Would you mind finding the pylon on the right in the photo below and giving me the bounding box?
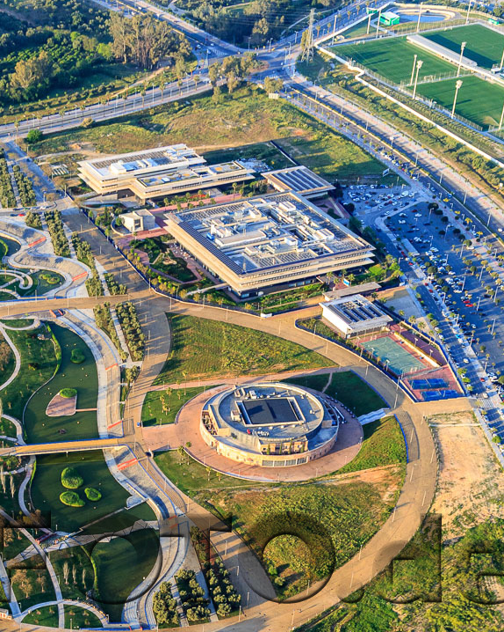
[302,0,318,61]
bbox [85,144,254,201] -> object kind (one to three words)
building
